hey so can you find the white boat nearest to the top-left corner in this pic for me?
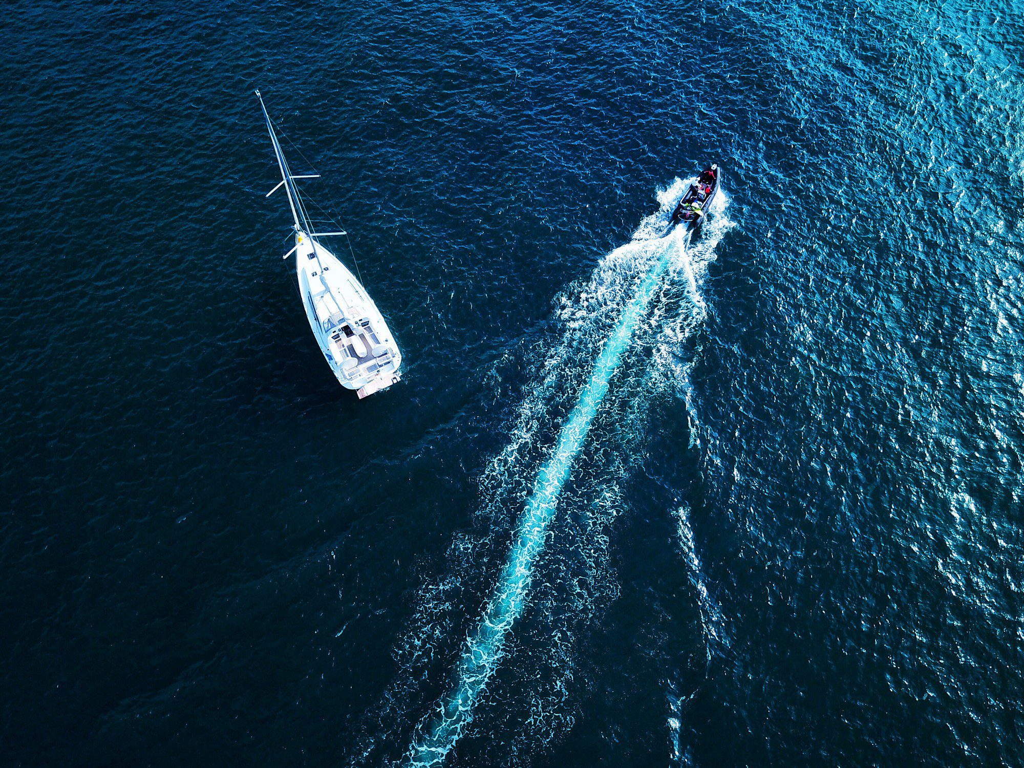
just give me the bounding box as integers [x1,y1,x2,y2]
[252,88,401,399]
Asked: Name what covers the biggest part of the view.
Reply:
water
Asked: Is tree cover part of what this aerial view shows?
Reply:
No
